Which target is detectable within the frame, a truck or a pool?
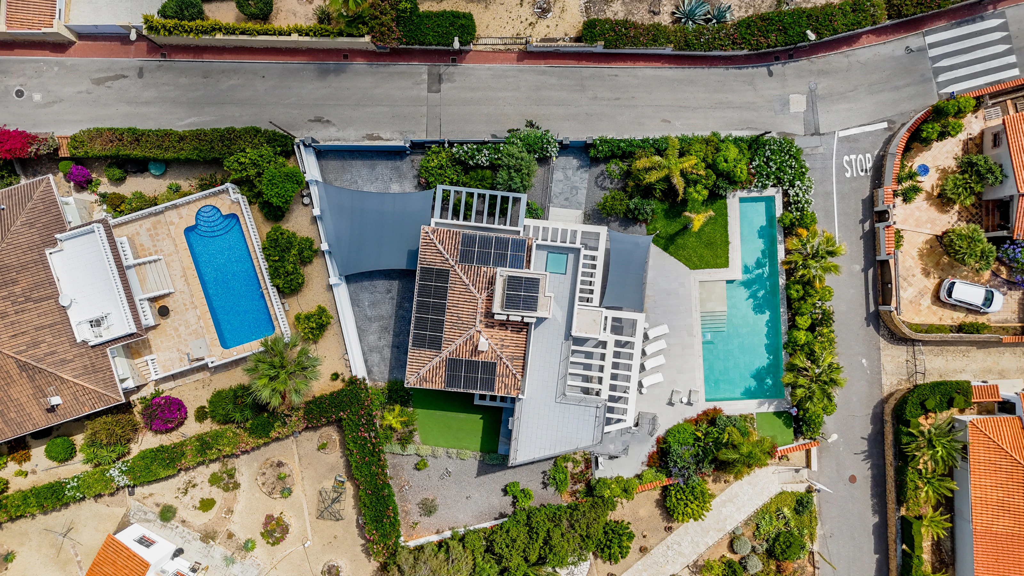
pool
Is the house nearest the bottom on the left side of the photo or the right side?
left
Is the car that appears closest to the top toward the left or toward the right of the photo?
right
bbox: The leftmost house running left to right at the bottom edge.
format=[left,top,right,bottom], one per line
[81,521,212,576]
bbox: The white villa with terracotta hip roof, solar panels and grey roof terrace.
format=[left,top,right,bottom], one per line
[403,185,646,470]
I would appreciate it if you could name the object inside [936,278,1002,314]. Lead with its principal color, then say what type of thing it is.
white car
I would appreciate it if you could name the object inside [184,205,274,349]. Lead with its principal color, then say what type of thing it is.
blue swimming pool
